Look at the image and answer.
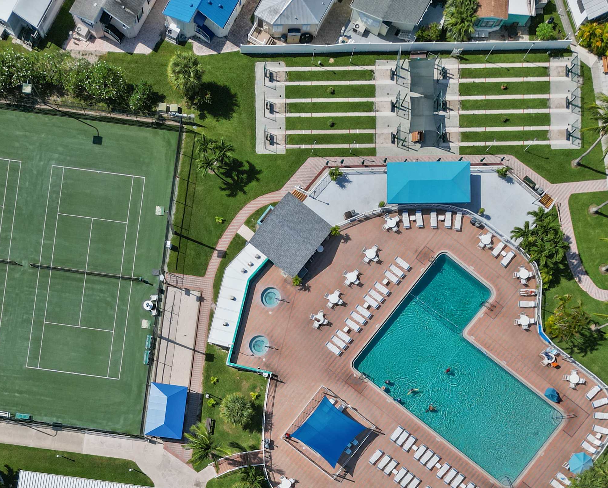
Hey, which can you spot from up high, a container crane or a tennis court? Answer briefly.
tennis court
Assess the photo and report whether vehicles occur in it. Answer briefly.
No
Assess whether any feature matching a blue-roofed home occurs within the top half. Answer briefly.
Yes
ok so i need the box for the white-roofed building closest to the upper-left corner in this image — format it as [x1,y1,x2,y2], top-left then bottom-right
[0,0,64,39]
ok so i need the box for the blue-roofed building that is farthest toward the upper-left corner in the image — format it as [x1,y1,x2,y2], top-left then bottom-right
[162,0,243,39]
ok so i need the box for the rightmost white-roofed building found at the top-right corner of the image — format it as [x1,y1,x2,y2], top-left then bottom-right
[555,0,608,39]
